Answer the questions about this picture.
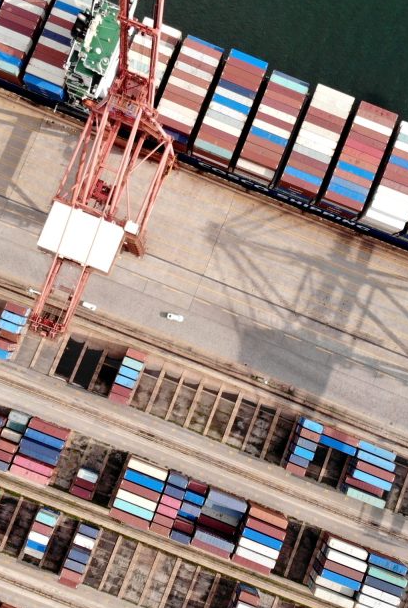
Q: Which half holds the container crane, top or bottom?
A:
top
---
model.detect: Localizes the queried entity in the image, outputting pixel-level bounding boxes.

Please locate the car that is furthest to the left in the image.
[81,301,97,313]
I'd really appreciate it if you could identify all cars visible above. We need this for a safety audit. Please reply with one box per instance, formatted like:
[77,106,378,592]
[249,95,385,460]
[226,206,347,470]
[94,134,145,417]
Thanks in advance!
[81,301,97,313]
[167,312,184,323]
